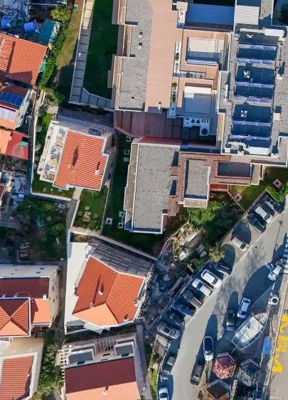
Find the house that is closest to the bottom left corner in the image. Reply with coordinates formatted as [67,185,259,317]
[0,341,46,400]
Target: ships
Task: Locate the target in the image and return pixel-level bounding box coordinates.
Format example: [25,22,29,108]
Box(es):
[227,314,267,356]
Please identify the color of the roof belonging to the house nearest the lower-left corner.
red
